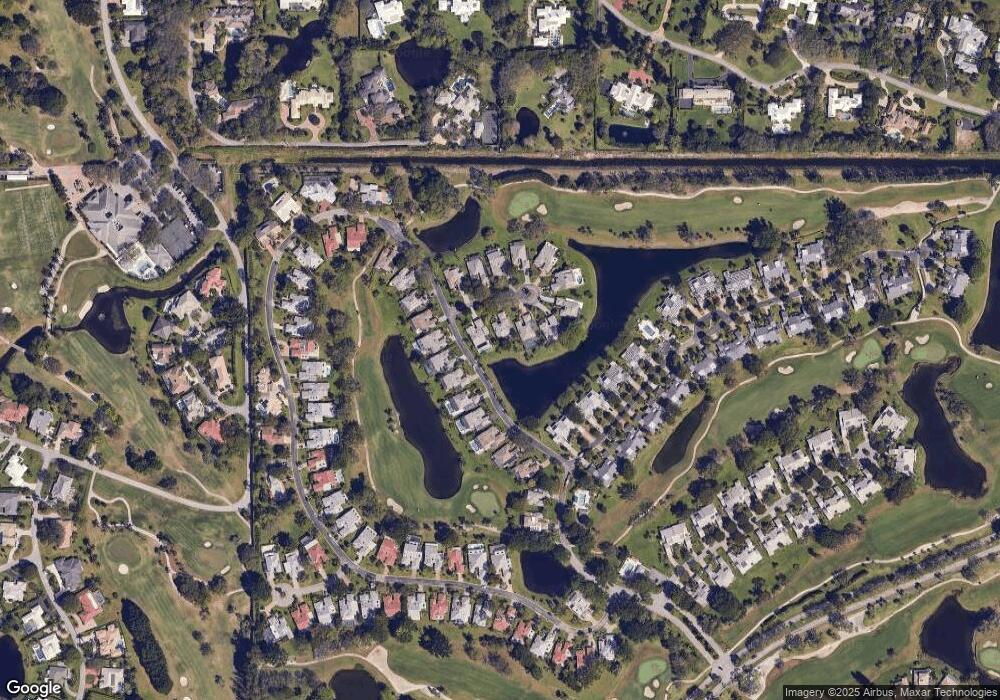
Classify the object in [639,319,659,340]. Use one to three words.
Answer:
swimming pool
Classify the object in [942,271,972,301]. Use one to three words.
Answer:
house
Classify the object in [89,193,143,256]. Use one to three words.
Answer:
building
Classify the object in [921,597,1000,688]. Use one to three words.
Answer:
pond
